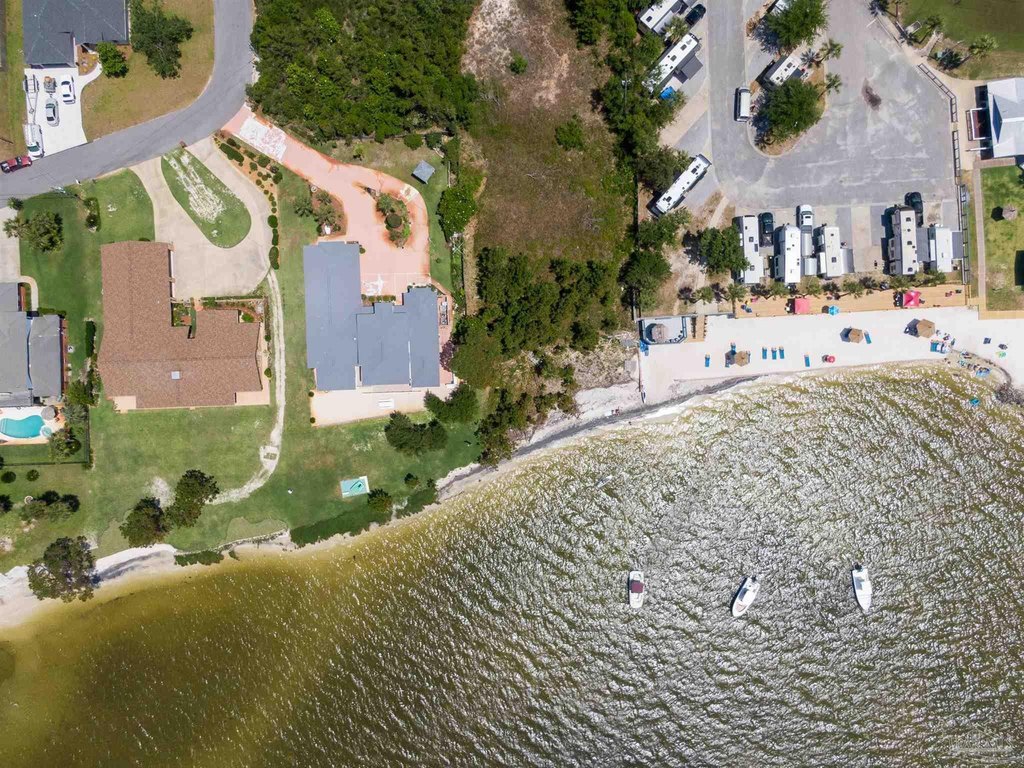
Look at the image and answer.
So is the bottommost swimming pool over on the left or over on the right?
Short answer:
left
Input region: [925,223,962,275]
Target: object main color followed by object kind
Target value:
white camper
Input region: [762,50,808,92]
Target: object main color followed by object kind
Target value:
white camper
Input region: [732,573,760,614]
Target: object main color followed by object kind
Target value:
white boat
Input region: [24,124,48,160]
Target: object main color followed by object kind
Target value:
white vehicle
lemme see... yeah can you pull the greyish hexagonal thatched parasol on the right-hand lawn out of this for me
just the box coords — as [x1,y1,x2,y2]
[999,204,1018,220]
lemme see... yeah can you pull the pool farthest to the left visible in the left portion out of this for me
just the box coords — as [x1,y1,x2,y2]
[0,402,66,445]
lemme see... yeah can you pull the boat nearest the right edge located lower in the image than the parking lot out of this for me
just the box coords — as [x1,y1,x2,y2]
[851,564,872,612]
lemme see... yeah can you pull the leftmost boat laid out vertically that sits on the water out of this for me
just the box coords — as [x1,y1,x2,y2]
[628,570,644,608]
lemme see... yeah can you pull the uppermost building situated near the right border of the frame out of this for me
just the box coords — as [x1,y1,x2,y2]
[968,79,1024,157]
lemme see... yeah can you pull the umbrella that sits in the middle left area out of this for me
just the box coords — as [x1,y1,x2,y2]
[42,406,57,420]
